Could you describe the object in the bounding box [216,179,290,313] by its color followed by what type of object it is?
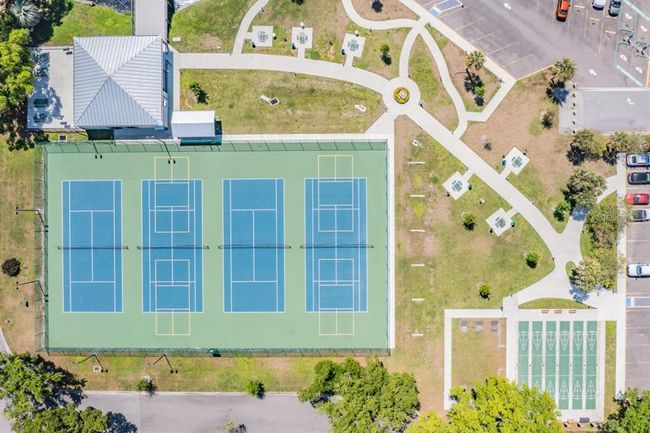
blue tennis court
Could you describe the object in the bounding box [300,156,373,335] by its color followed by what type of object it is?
blue tennis court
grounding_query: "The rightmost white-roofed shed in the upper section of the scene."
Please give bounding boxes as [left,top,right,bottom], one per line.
[171,110,220,145]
